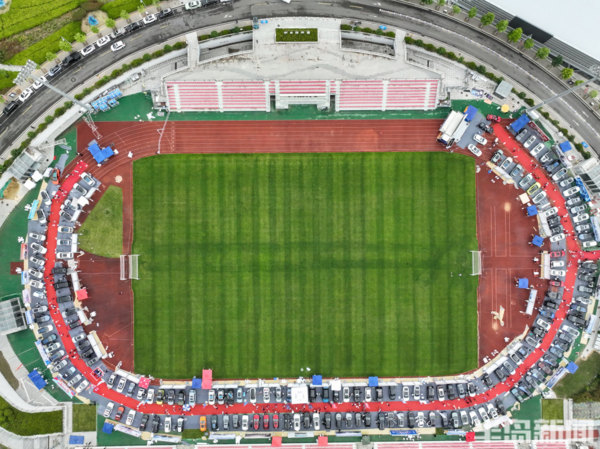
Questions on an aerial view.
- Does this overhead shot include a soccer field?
Yes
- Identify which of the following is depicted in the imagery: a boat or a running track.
running track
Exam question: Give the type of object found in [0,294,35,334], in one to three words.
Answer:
building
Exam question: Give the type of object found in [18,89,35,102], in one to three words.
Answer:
vehicle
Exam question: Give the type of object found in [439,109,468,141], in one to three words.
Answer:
truck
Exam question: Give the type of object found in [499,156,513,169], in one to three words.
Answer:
vehicle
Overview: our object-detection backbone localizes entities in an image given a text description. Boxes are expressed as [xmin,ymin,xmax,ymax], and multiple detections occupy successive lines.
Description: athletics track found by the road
[23,120,551,387]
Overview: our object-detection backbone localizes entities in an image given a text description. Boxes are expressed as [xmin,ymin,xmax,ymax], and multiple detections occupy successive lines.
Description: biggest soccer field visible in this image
[134,152,478,380]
